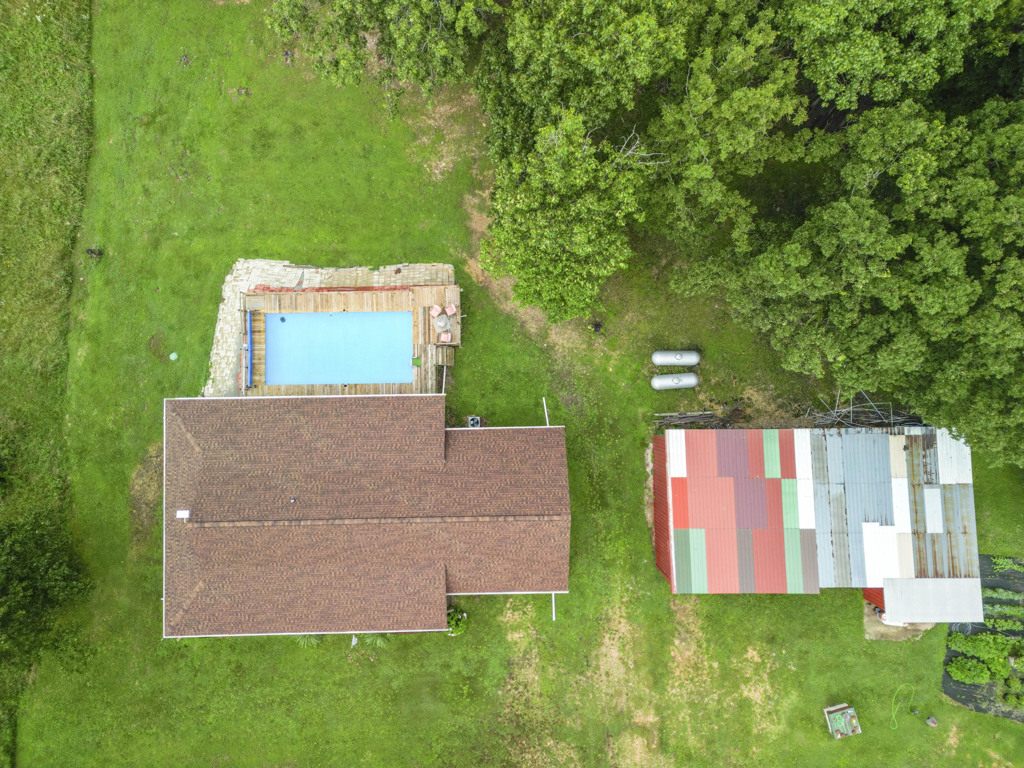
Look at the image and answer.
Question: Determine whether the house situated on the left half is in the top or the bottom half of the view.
bottom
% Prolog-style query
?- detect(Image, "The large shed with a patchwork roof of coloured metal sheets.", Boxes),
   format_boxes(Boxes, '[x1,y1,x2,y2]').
[652,428,983,624]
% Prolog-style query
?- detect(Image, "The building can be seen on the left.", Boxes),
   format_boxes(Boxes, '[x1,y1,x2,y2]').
[162,392,570,639]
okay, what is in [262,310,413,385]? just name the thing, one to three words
swimming pool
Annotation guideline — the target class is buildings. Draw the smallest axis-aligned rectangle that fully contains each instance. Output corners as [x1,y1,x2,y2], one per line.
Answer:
[652,428,983,624]
[162,392,570,639]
